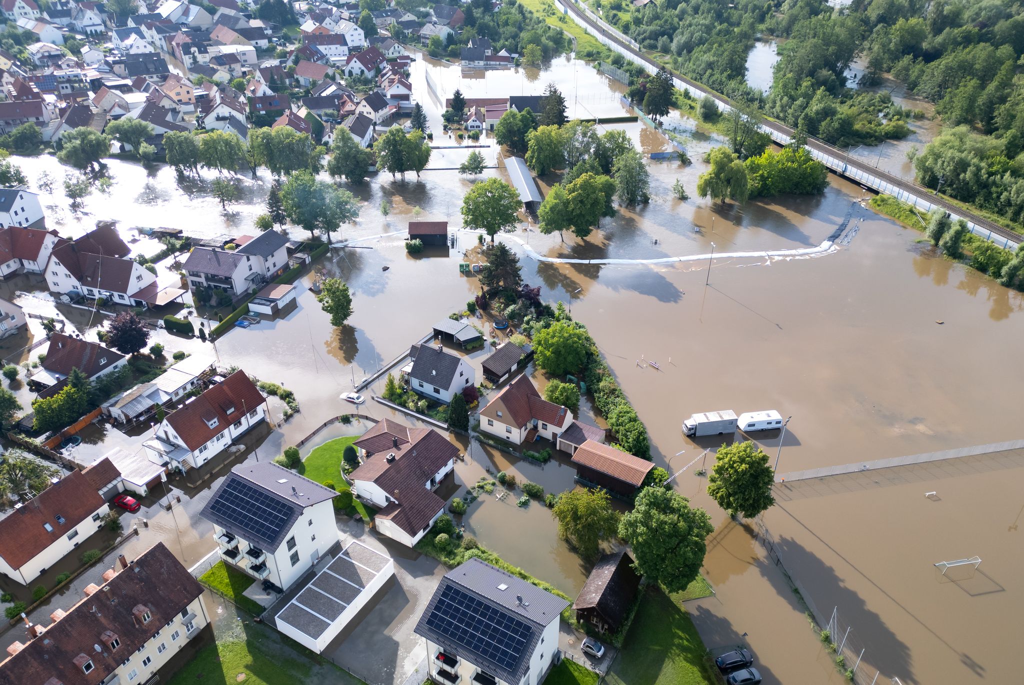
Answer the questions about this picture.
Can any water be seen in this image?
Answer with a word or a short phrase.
Yes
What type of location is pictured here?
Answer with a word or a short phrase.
residential area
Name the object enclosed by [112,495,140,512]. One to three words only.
car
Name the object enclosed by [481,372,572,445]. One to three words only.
house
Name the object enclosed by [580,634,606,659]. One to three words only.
car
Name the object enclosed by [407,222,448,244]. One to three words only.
shed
